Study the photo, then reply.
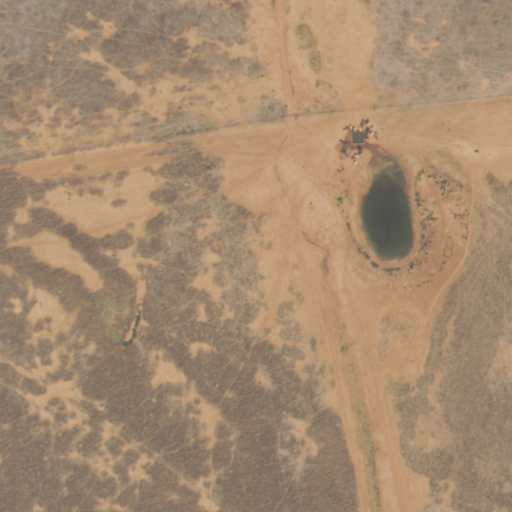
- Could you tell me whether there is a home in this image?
No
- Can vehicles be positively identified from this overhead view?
No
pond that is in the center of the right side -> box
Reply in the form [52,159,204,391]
[364,164,412,258]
